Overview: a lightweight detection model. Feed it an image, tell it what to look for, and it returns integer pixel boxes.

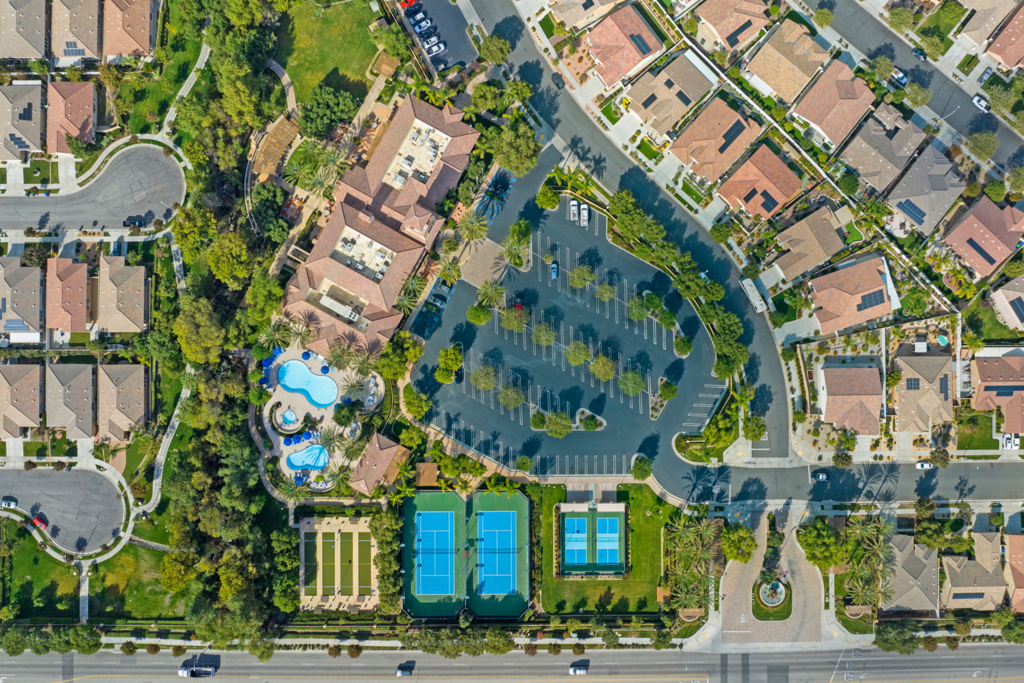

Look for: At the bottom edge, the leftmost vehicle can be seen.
[180,665,218,679]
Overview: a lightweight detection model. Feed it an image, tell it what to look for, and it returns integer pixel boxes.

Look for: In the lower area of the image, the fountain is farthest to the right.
[759,581,786,607]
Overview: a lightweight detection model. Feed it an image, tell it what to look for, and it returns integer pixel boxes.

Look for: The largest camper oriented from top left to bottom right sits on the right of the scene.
[738,277,770,314]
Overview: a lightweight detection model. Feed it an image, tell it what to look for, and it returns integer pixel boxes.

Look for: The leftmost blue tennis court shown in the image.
[403,494,466,619]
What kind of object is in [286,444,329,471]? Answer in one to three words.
swimming pool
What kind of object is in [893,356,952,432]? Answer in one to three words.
house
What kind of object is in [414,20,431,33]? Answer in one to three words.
vehicle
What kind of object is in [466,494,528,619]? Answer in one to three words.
tennis court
